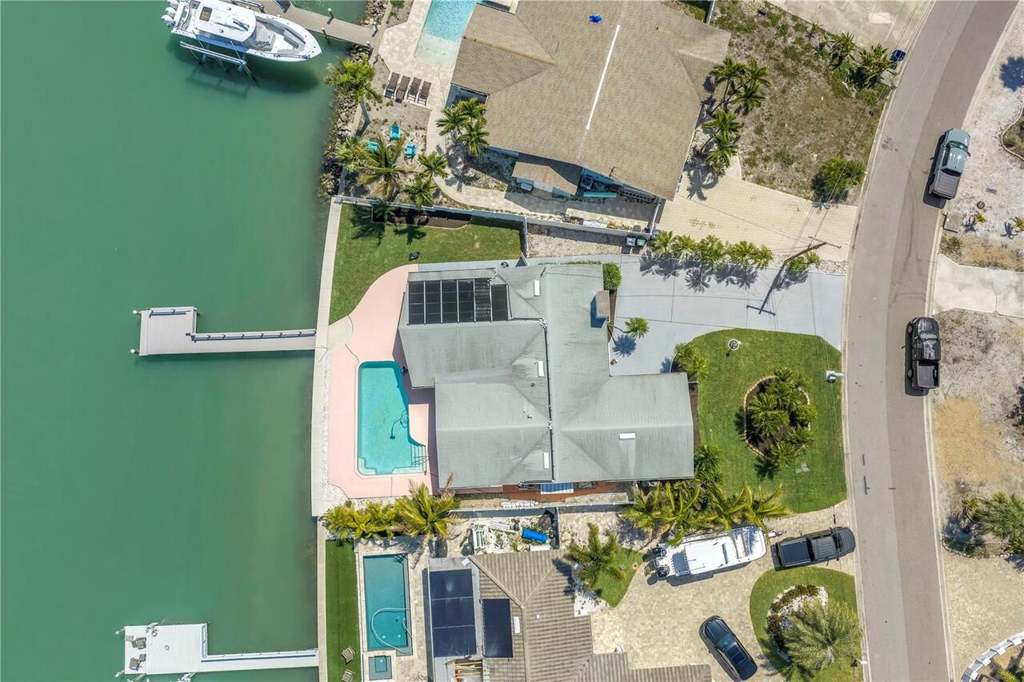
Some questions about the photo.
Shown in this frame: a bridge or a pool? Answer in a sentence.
The image shows a pool.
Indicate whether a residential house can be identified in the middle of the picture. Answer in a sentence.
Yes, I can see a residential house in the middle of the picture.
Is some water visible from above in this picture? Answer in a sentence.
Yes, water shows up in the scene.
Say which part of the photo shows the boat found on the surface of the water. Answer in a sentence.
The boat found on the surface of the water is in the top left part of the image.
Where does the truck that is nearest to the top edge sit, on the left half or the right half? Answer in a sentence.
It is on the right.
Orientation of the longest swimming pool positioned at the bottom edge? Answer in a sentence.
What the image shows is the longest swimming pool positioned at the bottom edge lying vertically.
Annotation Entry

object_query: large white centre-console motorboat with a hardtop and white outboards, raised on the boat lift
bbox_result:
[163,0,325,60]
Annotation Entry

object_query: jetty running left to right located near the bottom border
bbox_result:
[112,618,319,678]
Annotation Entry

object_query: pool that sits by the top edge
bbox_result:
[411,0,477,68]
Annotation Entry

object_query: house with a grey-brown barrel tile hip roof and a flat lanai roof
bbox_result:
[427,549,714,682]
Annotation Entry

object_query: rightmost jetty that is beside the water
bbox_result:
[227,0,381,51]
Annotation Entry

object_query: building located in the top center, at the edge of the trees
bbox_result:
[448,0,730,201]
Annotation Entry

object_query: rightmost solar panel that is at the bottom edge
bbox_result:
[484,599,513,659]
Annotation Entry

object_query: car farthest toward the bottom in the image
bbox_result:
[703,613,757,682]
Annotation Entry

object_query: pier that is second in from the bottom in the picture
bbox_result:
[129,307,317,357]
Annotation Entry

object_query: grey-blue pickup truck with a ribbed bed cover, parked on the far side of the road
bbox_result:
[926,126,969,203]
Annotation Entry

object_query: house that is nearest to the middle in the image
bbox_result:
[399,265,693,495]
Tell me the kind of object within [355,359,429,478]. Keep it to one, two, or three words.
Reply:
swimming pool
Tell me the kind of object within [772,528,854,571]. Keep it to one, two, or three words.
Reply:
truck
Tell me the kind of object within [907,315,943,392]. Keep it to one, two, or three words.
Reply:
truck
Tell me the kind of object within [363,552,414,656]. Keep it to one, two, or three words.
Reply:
swimming pool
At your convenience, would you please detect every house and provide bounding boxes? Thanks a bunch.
[427,549,714,682]
[448,0,730,201]
[399,265,693,495]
